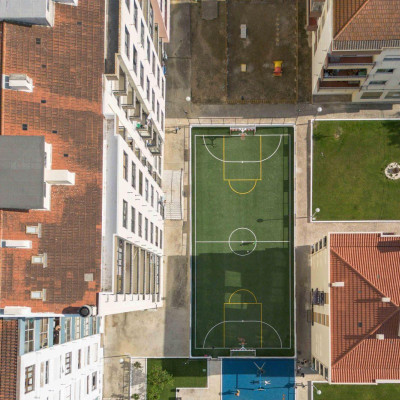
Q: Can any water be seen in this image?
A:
No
